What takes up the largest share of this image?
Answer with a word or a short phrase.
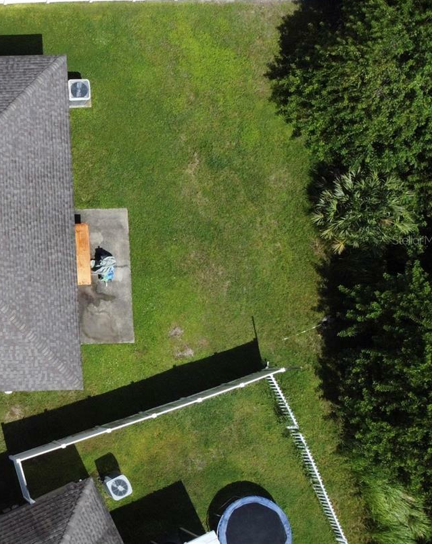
grass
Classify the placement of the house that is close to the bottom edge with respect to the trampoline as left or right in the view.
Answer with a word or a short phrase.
on its left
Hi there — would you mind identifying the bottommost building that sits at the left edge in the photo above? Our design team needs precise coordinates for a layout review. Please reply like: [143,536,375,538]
[0,476,123,544]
